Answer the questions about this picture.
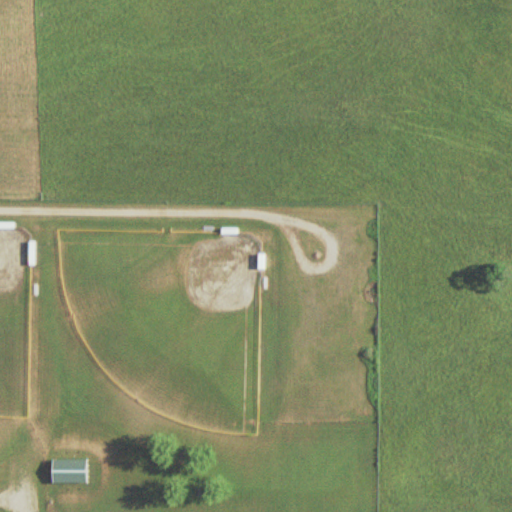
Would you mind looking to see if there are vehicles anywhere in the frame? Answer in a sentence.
No, the scene contains no vehicle.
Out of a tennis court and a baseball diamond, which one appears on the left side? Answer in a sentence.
The feature located on the left side is a baseball diamond.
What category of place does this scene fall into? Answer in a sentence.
It's farmland.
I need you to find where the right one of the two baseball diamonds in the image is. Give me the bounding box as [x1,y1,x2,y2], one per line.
[58,230,262,434]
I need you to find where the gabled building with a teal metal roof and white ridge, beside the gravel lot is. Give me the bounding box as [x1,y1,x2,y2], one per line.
[52,460,90,483]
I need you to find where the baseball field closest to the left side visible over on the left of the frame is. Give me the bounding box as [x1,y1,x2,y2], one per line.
[0,228,32,417]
